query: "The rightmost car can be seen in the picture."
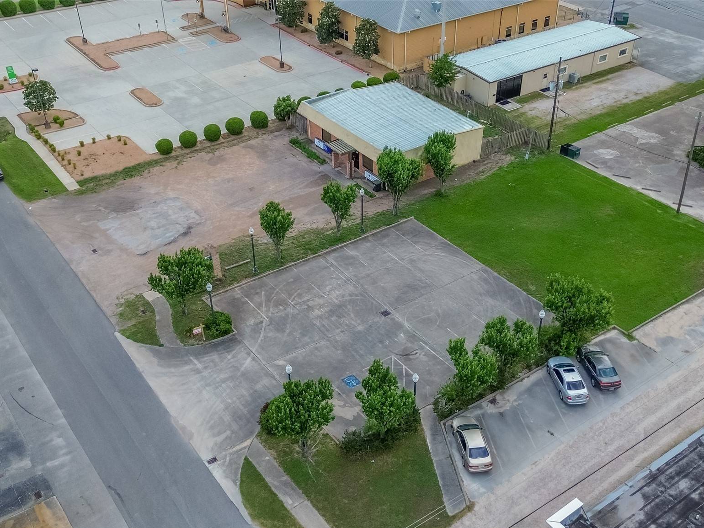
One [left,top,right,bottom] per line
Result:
[581,346,627,396]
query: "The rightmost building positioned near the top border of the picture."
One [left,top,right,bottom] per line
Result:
[449,18,640,107]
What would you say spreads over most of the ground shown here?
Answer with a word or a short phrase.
paved ground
